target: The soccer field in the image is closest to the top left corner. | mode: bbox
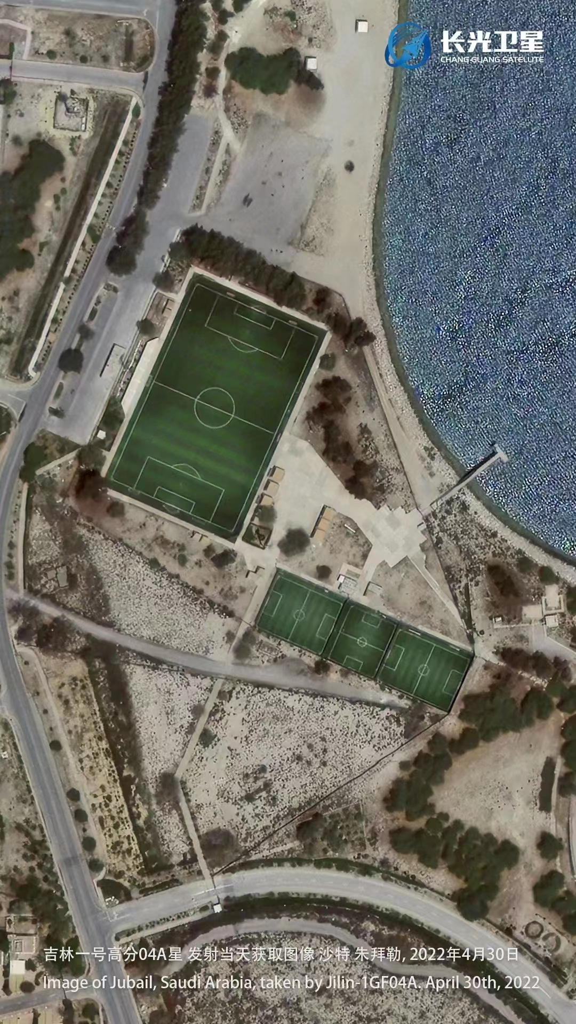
[106,272,327,544]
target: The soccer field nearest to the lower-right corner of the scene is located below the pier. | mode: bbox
[377,624,473,713]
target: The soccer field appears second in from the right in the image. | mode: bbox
[324,599,397,678]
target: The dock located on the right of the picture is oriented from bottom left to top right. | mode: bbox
[430,444,509,509]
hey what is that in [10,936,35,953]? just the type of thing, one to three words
house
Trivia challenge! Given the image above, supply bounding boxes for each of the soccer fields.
[106,272,327,544]
[324,599,397,678]
[256,568,347,657]
[377,624,473,713]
